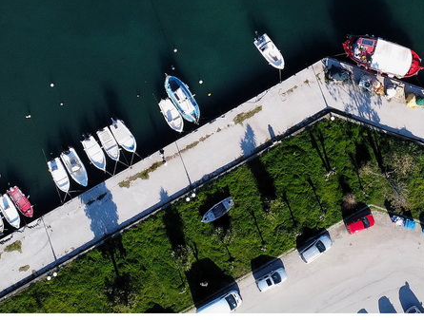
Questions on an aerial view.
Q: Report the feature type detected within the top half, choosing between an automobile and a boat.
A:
boat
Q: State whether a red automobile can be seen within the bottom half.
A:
Yes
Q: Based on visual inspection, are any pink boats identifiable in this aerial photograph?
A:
Yes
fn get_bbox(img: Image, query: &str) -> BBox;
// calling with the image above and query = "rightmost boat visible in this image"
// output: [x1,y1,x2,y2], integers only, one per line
[341,37,424,77]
